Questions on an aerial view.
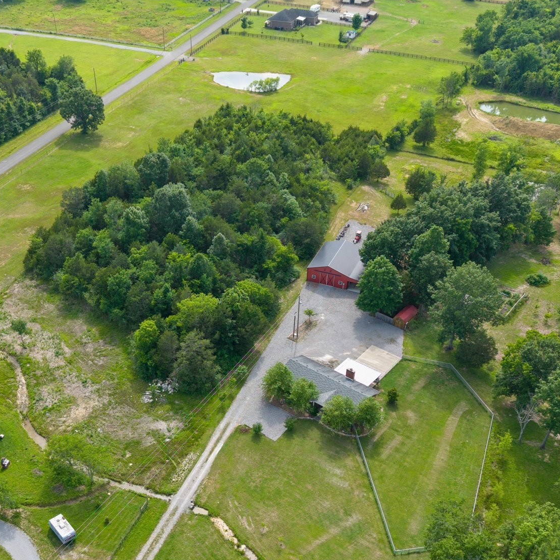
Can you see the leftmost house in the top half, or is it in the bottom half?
top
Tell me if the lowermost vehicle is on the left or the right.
left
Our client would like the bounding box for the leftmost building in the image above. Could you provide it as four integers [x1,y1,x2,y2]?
[270,9,323,30]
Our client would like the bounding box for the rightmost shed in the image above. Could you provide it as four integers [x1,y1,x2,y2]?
[394,308,422,330]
